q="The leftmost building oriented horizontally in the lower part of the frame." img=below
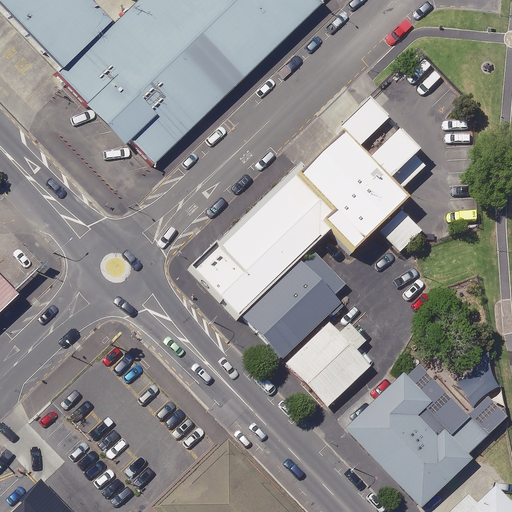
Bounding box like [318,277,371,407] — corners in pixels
[8,480,72,512]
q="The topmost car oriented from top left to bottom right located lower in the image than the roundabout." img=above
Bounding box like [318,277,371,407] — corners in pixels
[114,297,138,317]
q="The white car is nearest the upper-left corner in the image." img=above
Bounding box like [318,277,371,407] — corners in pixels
[70,111,96,126]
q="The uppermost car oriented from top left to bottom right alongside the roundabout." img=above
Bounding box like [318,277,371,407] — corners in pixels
[122,249,144,272]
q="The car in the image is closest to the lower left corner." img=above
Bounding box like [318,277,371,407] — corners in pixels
[6,487,26,506]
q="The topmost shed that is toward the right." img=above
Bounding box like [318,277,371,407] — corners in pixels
[338,97,388,144]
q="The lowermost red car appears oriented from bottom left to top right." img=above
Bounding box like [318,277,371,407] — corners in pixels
[38,410,58,428]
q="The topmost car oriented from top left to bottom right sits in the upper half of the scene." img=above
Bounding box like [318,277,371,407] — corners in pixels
[46,176,68,198]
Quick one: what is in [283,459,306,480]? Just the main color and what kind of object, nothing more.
blue car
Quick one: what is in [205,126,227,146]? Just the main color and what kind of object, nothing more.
white car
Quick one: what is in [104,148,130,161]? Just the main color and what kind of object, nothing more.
white vehicle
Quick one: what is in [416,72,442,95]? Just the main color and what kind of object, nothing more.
white vehicle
